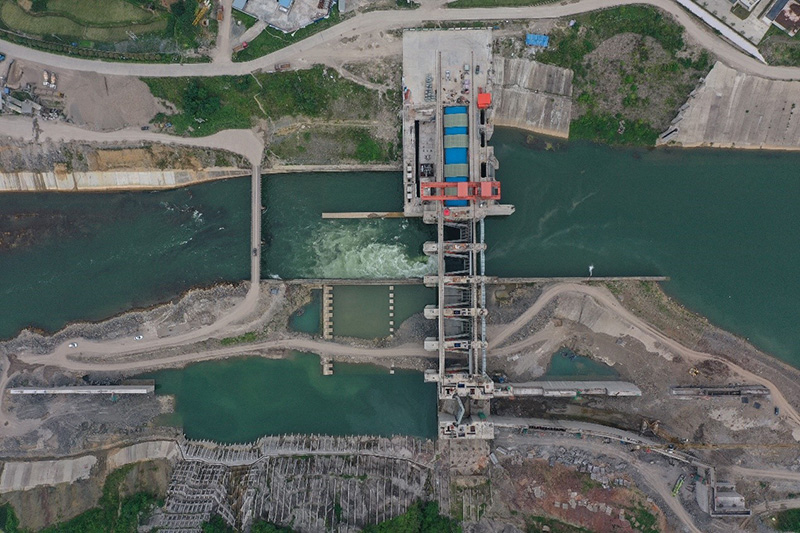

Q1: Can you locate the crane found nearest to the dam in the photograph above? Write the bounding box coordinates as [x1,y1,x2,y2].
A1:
[421,177,501,206]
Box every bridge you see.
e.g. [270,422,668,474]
[251,166,267,285]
